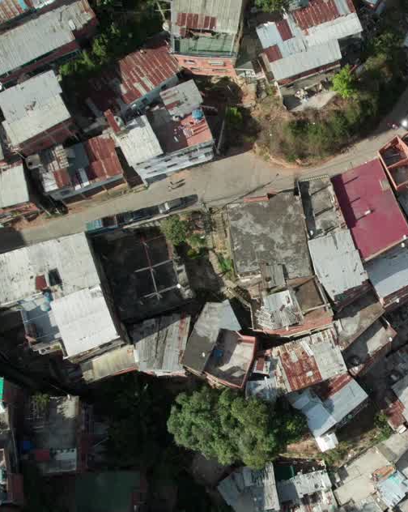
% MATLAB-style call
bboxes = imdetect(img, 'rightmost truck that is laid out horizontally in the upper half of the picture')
[156,190,202,216]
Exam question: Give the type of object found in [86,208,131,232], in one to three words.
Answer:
vehicle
